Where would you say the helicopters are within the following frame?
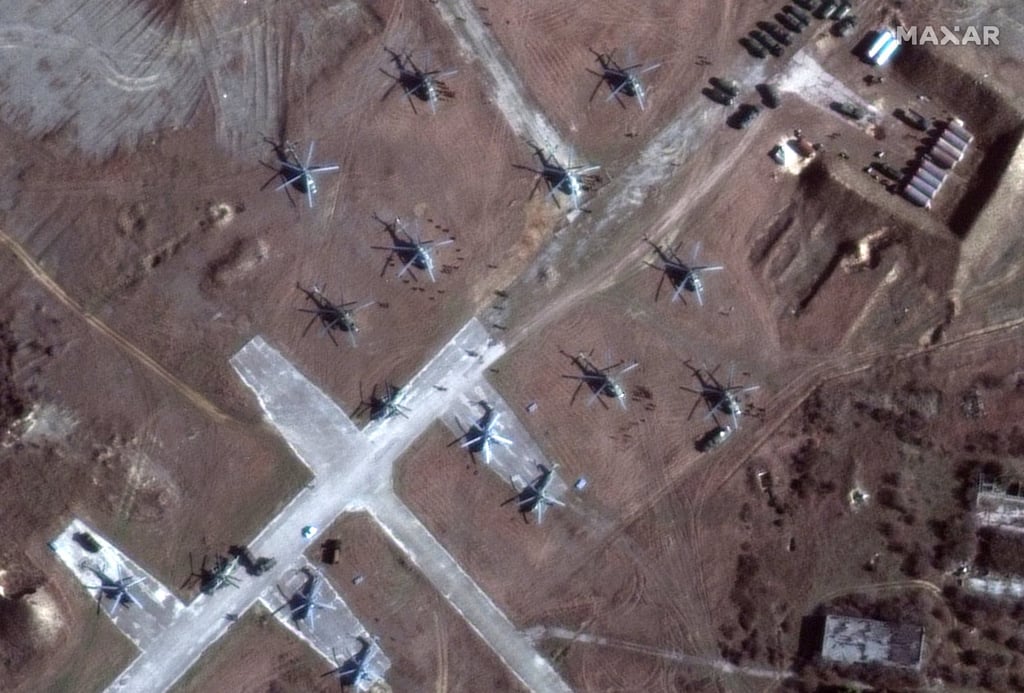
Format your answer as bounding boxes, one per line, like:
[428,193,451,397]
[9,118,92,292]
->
[662,239,727,306]
[388,212,454,277]
[394,41,459,111]
[538,135,603,204]
[598,44,663,107]
[196,552,240,594]
[309,281,374,344]
[697,360,762,428]
[462,401,515,463]
[515,463,568,524]
[575,347,641,410]
[275,138,338,206]
[94,561,147,614]
[285,565,339,632]
[334,638,387,693]
[366,380,409,422]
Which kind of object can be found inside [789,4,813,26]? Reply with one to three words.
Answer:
truck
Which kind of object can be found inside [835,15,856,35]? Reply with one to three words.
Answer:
vehicle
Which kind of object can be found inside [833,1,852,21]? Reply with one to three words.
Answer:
vehicle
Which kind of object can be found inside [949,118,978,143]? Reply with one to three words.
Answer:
tent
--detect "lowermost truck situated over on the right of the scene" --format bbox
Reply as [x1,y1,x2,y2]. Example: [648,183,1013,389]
[703,426,730,449]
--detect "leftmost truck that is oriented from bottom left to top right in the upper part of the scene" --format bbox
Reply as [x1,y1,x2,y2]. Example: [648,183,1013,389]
[737,105,760,126]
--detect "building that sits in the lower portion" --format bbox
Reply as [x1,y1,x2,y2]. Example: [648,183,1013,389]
[823,615,923,669]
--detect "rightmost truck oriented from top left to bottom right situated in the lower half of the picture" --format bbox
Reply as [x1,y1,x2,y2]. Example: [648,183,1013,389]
[234,546,260,568]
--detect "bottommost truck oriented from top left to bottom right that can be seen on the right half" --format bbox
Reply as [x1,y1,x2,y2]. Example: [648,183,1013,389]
[876,161,906,184]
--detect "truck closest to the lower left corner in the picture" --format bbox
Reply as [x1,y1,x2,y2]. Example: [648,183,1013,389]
[79,534,104,555]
